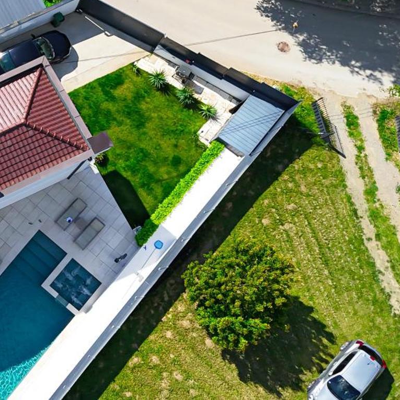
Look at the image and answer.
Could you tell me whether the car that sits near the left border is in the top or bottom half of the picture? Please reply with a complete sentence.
It is in the top half that the car that sits near the left border appears.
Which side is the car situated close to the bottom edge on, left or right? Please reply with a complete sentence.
The car situated close to the bottom edge appears in the right half of the scene.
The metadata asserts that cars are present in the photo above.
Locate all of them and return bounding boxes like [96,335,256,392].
[0,33,73,77]
[308,343,390,400]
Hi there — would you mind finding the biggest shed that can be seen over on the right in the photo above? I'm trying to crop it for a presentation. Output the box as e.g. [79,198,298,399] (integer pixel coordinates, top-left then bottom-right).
[207,96,285,160]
